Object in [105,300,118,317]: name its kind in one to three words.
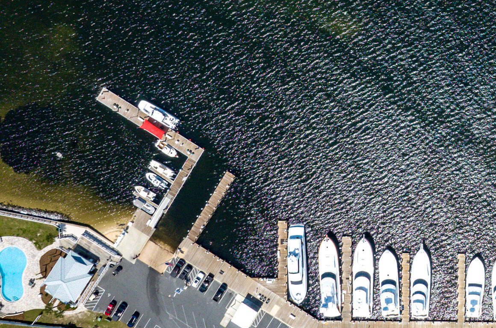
vehicle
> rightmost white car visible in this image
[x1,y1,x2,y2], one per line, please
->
[192,271,206,288]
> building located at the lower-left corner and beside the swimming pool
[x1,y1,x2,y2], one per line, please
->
[40,251,99,302]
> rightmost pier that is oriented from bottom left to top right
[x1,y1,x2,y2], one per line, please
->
[187,171,238,245]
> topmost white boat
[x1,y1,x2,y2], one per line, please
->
[141,103,180,128]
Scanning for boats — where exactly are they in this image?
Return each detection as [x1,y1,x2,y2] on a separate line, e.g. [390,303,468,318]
[135,187,158,201]
[466,256,486,318]
[353,235,375,319]
[380,250,401,318]
[151,161,179,179]
[146,173,170,190]
[287,225,307,303]
[141,103,180,128]
[157,141,179,158]
[129,197,156,215]
[320,234,343,319]
[411,245,431,321]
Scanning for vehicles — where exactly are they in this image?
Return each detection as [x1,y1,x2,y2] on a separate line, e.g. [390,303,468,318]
[128,311,141,328]
[113,302,127,322]
[105,300,118,317]
[111,267,123,278]
[213,283,228,303]
[171,259,186,278]
[179,262,194,282]
[192,271,206,288]
[200,274,215,292]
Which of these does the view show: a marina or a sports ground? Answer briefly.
marina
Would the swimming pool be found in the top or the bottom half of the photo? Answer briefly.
bottom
